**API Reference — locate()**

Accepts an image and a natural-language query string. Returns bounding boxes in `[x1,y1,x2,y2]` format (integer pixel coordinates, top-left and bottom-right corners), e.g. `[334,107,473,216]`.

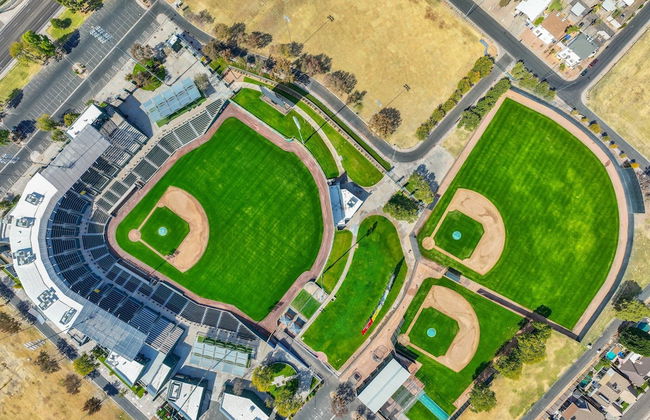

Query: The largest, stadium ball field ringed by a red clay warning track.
[107,101,334,338]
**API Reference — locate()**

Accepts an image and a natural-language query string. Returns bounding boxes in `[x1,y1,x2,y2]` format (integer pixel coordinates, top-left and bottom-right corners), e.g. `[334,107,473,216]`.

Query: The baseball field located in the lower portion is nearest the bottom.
[396,277,523,420]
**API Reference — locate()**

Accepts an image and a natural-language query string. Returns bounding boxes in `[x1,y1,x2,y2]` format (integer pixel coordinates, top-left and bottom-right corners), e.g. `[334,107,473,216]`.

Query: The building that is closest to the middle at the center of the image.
[330,183,363,226]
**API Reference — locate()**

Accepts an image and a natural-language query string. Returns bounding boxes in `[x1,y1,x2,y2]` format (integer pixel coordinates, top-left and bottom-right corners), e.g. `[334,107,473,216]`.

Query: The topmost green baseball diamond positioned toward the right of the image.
[411,91,628,341]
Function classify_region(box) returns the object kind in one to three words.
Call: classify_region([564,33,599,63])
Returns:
house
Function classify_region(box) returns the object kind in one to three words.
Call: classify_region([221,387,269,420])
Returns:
building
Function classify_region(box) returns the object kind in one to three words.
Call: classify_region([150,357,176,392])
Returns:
building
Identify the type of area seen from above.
sports ground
